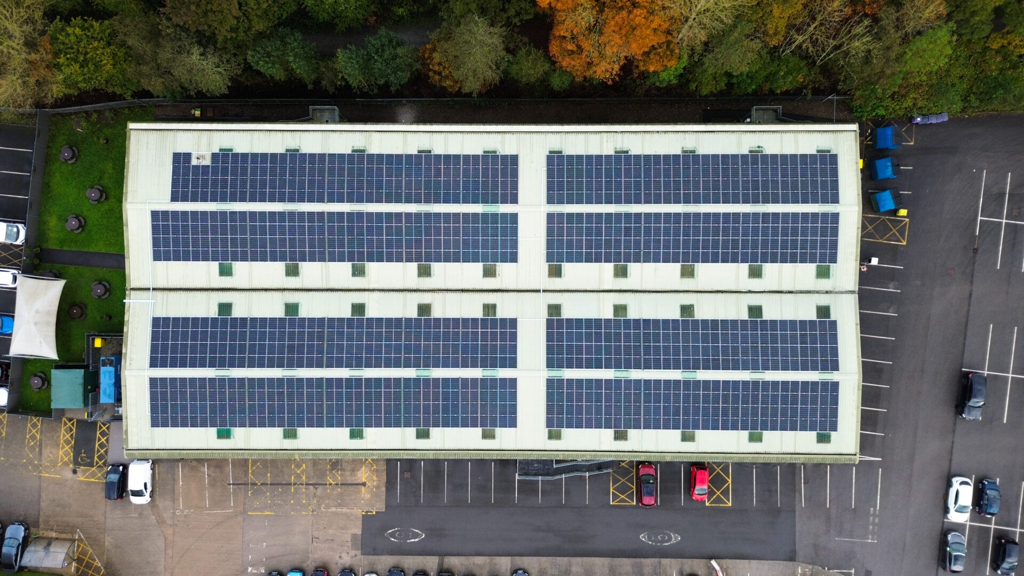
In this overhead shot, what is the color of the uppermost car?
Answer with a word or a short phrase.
white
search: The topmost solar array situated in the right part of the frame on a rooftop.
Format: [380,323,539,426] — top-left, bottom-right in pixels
[546,153,839,205]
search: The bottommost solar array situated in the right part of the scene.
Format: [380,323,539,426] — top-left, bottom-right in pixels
[546,378,839,431]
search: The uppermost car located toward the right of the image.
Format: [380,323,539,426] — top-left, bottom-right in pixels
[958,372,988,420]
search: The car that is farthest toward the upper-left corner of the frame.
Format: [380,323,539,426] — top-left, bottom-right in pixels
[0,222,25,244]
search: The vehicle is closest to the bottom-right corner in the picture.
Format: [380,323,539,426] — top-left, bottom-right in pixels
[991,534,1021,576]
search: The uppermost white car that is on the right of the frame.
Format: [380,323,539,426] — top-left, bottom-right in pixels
[944,475,972,522]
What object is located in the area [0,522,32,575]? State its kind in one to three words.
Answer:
car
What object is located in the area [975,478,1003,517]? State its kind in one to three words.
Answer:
car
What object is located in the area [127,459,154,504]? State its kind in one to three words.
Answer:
vehicle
